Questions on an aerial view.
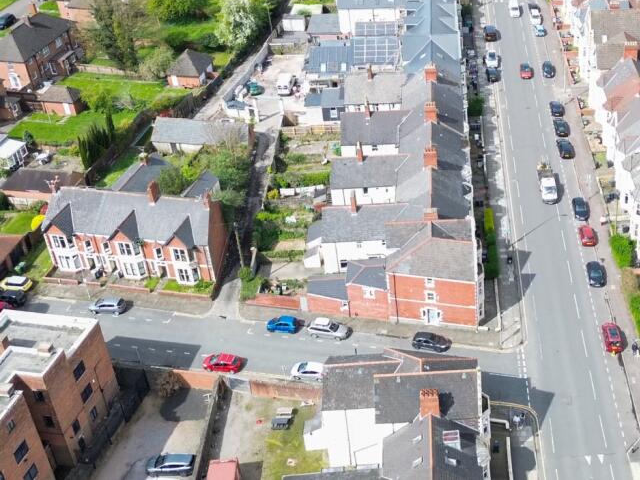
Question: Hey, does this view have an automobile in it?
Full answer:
Yes, the frame does contain an automobile.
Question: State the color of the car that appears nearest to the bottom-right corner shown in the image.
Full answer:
From above, the car that appears nearest to the bottom-right corner appears red.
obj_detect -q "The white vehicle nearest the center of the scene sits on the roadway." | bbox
[302,317,349,341]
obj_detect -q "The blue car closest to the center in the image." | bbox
[262,315,303,335]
